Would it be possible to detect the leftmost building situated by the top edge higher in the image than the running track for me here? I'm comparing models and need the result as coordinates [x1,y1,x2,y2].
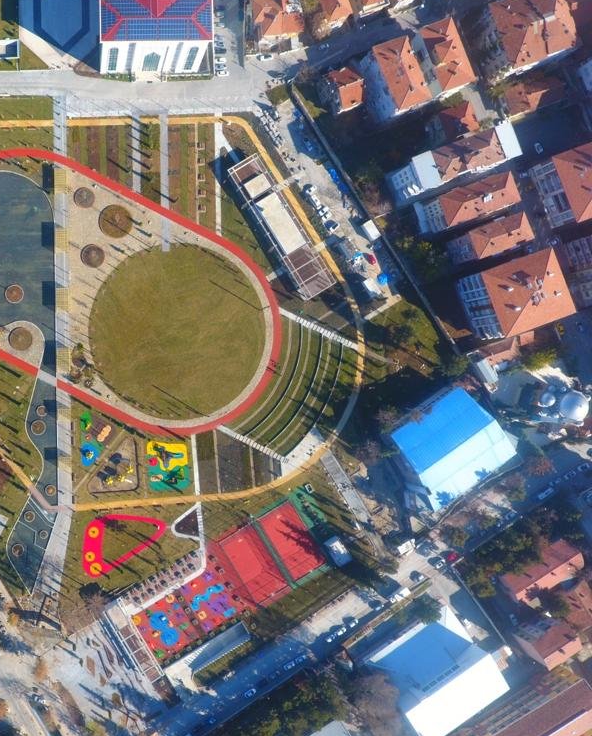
[99,0,213,81]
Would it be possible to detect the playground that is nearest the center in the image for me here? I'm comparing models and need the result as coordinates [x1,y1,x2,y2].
[146,441,190,492]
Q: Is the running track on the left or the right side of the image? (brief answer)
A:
left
